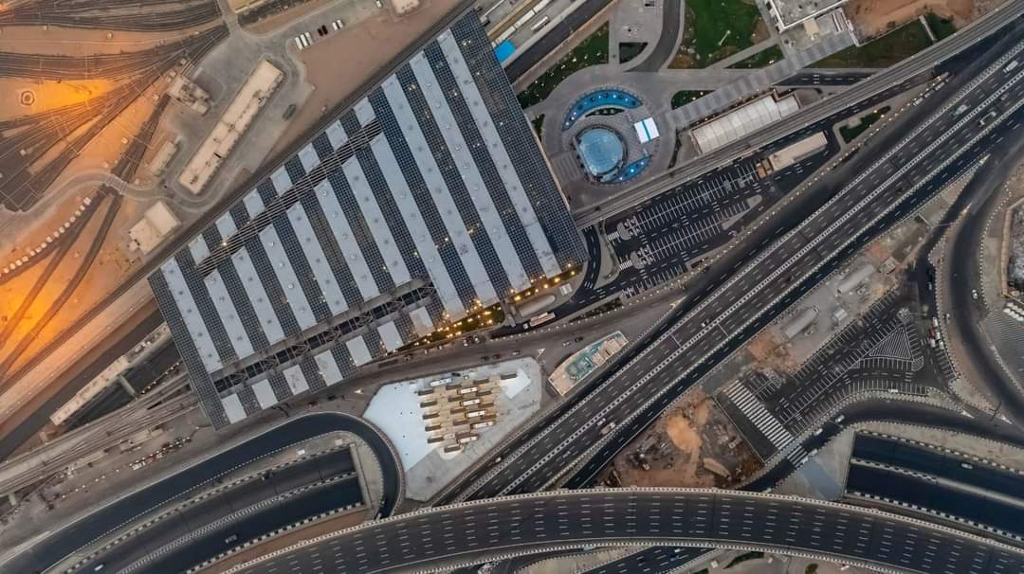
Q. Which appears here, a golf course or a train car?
train car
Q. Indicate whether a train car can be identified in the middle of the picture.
No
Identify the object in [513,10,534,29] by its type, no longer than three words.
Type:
rail car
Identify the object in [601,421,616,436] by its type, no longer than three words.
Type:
vehicle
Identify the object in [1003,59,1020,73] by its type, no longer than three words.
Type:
vehicle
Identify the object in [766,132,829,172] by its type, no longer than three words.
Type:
building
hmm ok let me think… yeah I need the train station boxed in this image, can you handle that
[148,9,589,431]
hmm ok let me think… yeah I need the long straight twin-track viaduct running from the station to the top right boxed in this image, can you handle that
[569,0,1024,230]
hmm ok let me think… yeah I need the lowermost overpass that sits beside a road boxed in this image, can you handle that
[220,485,1024,574]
